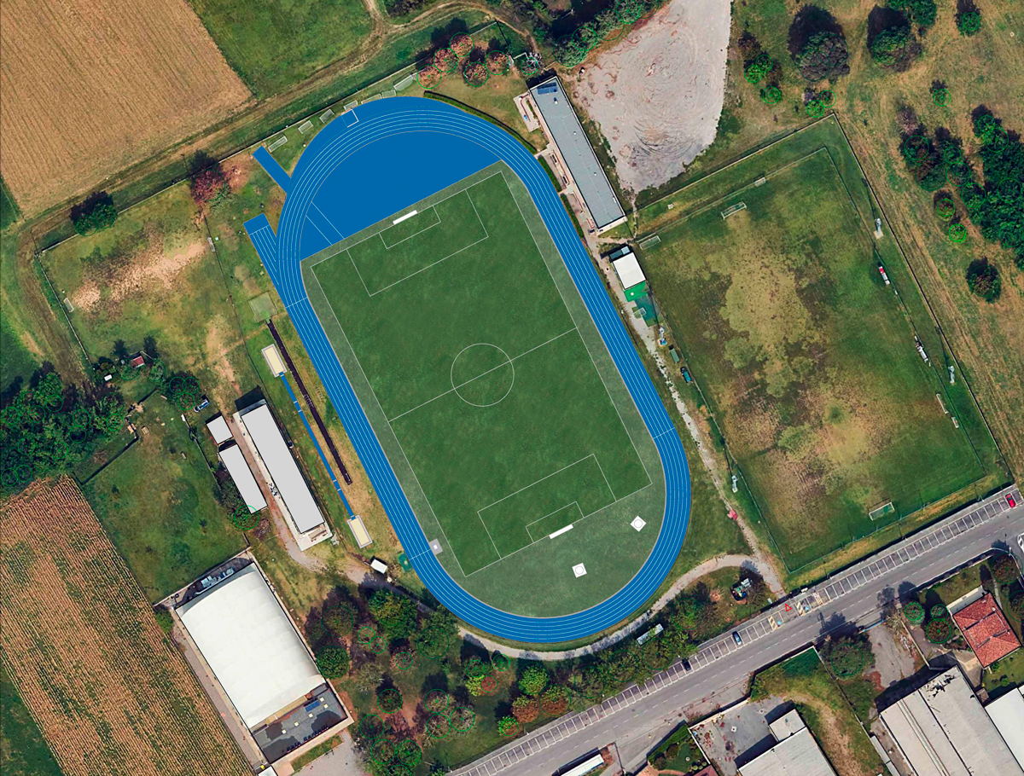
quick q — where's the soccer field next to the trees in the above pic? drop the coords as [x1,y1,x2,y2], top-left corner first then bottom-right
[301,161,665,618]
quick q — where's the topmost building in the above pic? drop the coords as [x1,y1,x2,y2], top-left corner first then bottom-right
[529,75,627,232]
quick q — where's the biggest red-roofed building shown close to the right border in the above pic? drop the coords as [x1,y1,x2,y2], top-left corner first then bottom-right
[947,584,1022,668]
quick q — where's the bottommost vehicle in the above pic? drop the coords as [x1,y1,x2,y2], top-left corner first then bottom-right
[566,754,605,776]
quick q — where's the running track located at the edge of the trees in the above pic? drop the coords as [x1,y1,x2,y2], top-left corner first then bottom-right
[244,96,690,643]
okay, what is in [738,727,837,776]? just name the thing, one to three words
building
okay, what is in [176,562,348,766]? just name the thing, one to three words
building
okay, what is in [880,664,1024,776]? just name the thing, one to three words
warehouse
